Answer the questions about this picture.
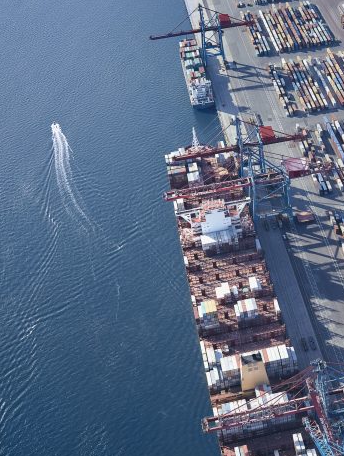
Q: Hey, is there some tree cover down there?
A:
No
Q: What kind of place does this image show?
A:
port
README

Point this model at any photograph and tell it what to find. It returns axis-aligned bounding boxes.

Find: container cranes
[294,385,344,456]
[148,0,252,66]
[173,114,302,191]
[162,145,340,233]
[201,356,344,443]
